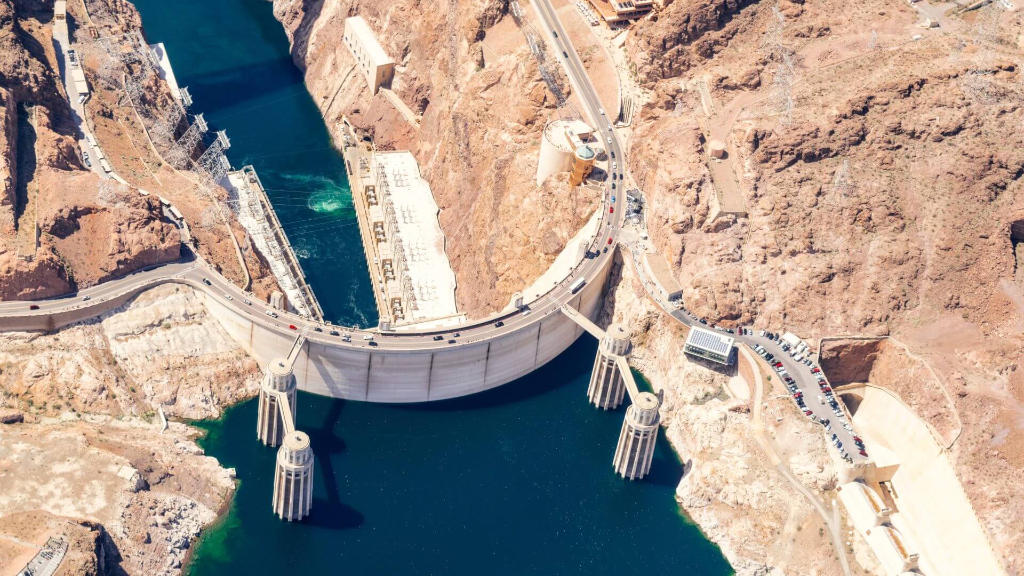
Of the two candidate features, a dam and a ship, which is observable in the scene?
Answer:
dam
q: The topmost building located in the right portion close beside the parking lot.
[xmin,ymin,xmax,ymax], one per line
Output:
[645,252,683,300]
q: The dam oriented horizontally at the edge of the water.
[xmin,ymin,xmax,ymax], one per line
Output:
[185,189,616,401]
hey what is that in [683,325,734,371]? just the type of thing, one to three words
building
